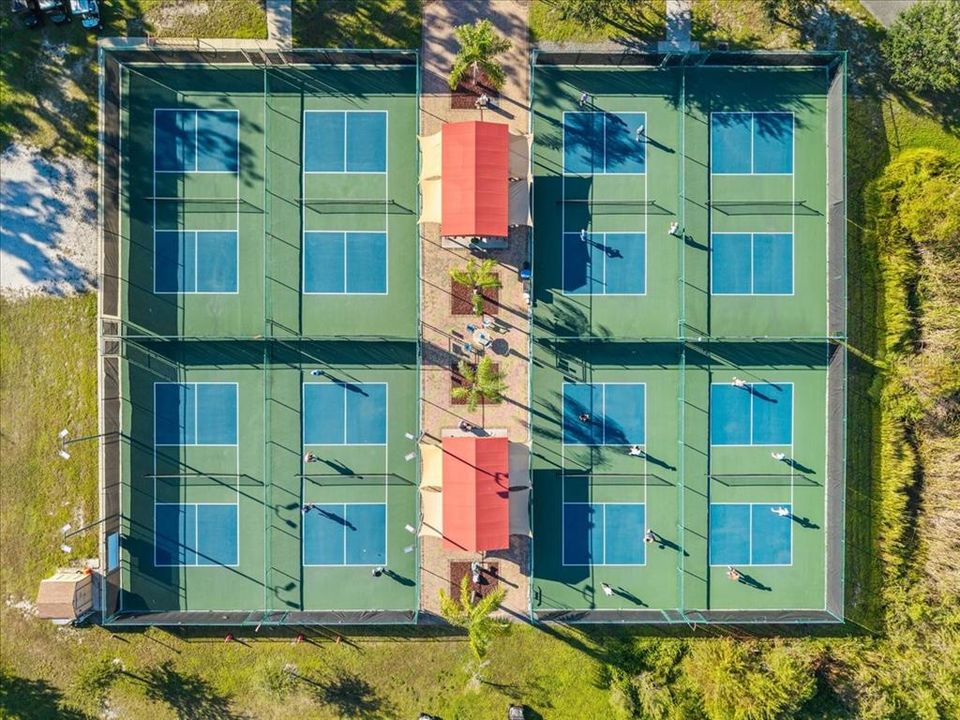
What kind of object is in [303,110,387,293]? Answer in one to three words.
sports court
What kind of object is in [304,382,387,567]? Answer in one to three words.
sports court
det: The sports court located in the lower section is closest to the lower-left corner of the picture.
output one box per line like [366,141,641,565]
[154,382,239,567]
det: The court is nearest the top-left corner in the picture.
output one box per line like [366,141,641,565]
[153,110,238,293]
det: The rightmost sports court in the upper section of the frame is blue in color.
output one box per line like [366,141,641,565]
[711,110,795,293]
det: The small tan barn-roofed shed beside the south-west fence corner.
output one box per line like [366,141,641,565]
[36,573,92,618]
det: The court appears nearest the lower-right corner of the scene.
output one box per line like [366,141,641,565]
[710,382,794,567]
